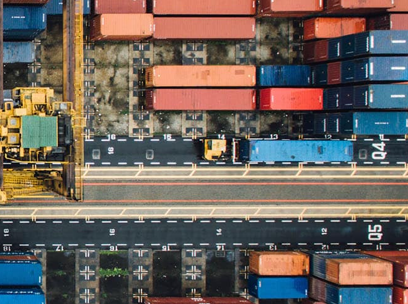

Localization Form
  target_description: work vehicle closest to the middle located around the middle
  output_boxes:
[198,137,228,164]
